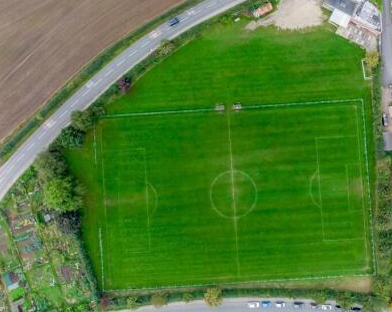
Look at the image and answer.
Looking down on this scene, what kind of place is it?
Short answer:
sports ground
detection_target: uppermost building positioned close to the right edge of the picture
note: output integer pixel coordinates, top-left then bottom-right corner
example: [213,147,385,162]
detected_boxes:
[322,0,382,35]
